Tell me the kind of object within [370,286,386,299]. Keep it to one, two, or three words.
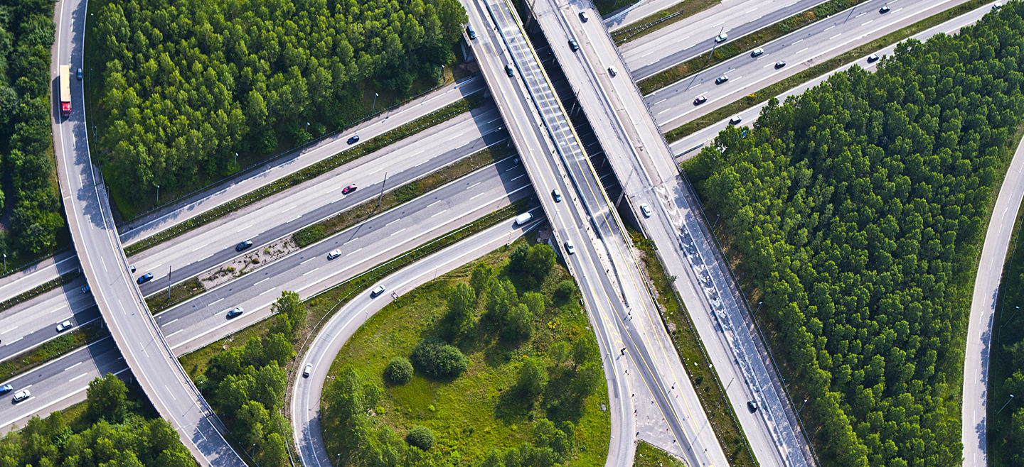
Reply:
vehicle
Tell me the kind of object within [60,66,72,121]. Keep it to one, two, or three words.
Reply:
vehicle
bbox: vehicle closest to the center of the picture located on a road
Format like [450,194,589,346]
[515,212,535,226]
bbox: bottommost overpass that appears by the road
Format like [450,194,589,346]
[62,167,222,440]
